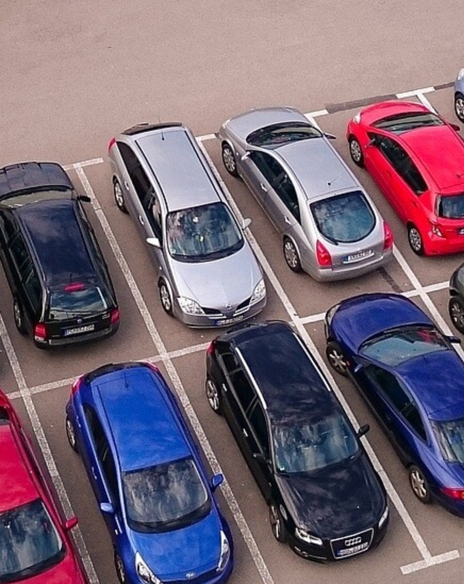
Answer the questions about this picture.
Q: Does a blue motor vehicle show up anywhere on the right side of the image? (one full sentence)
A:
Yes, the scene does show a blue motor vehicle on the right side of the image.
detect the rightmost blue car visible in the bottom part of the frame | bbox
[319,289,464,520]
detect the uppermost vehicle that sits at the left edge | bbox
[0,164,127,356]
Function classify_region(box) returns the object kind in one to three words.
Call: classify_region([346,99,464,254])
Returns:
car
